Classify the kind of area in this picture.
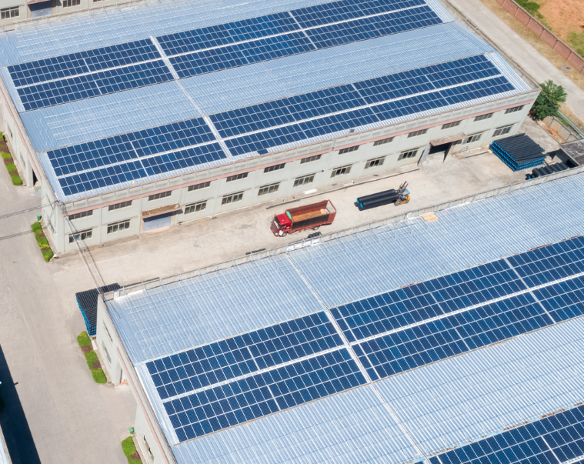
industrial area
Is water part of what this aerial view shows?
No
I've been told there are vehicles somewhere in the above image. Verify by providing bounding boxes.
[393,183,412,206]
[269,201,337,235]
